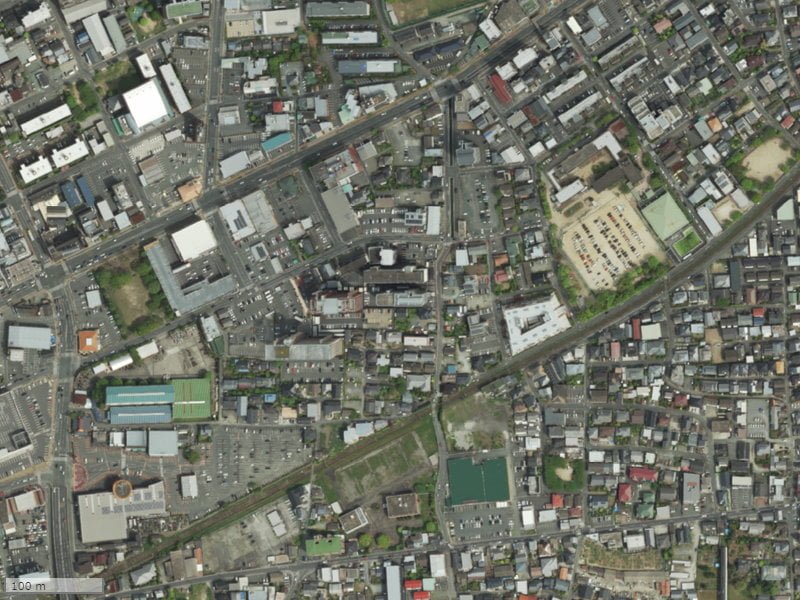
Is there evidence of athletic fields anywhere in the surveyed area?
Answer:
Yes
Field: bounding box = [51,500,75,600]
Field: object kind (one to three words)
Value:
overpass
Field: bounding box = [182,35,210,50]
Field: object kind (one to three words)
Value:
building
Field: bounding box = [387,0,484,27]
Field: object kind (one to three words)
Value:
sports field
